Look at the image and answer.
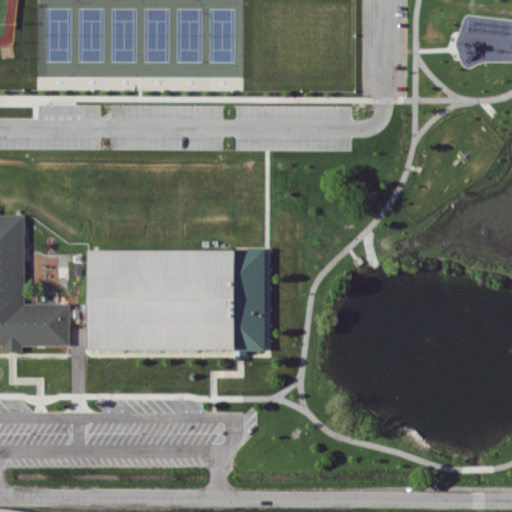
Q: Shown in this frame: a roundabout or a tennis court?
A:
tennis court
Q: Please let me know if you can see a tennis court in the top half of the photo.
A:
Yes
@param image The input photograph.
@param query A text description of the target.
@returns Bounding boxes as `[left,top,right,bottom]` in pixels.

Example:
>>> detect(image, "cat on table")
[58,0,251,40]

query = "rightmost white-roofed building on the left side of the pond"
[87,250,238,351]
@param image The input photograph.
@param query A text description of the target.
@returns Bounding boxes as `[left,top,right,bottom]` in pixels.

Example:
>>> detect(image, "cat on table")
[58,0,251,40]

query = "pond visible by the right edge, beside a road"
[328,268,512,454]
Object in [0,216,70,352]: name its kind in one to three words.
building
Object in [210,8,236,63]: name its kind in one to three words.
tennis court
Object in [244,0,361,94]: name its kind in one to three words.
sports field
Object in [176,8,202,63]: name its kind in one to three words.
tennis court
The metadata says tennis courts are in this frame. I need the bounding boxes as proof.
[110,8,137,63]
[176,8,202,63]
[210,8,236,63]
[78,8,104,63]
[145,8,170,63]
[45,8,72,63]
